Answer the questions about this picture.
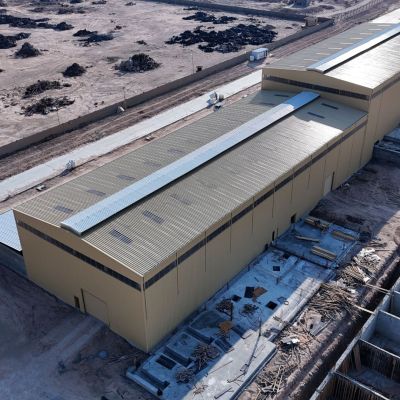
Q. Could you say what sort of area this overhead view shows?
industrial area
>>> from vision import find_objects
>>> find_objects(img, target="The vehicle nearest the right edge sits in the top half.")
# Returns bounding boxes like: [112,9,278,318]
[250,46,268,61]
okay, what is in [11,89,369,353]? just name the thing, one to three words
warehouse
